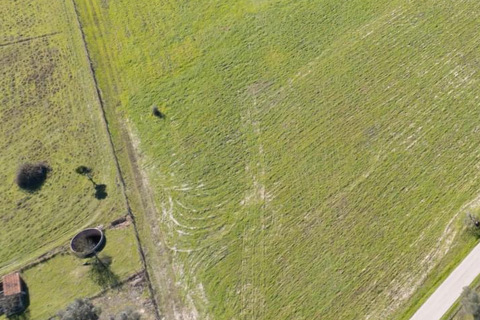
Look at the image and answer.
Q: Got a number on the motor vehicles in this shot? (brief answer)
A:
none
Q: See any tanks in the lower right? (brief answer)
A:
No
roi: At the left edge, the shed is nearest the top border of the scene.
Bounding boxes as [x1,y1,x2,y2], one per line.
[3,267,33,305]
